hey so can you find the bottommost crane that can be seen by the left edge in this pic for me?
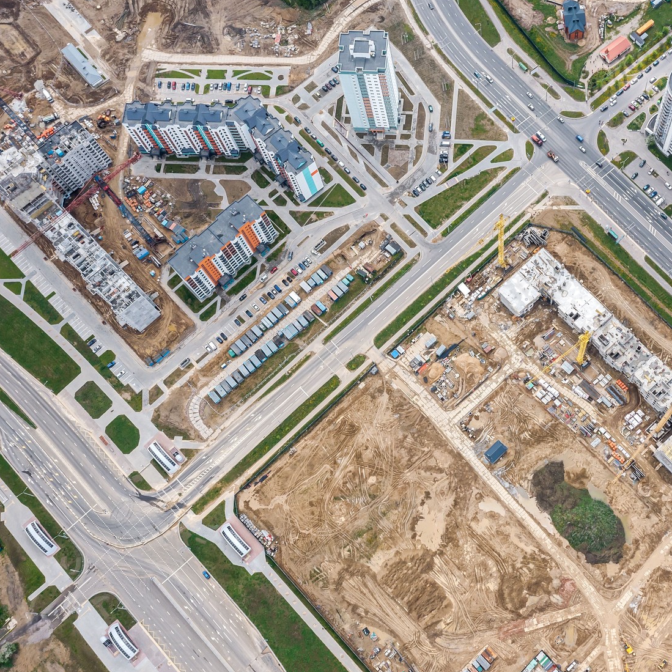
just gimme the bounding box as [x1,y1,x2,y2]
[13,151,166,256]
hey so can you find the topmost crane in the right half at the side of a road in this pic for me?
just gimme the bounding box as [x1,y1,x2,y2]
[447,210,521,275]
